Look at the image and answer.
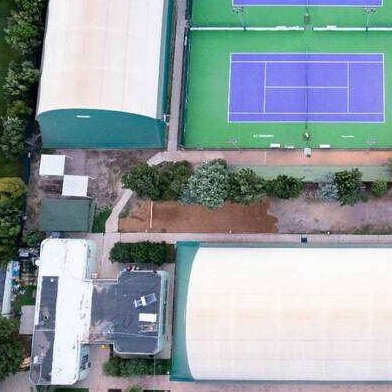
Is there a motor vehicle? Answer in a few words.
No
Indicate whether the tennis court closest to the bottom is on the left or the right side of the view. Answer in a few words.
right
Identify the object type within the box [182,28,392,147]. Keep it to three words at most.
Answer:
tennis court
